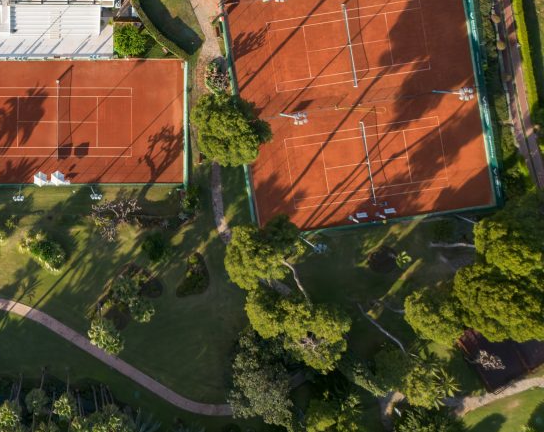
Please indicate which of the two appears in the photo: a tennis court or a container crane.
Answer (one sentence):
There is a tennis court in the scene.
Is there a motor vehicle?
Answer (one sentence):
No, I can see no motor vehicle in this picture.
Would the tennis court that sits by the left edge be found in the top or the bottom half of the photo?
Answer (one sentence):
The tennis court that sits by the left edge is in the top half of the image.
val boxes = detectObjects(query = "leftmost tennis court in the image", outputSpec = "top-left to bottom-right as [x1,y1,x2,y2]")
[0,60,185,184]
